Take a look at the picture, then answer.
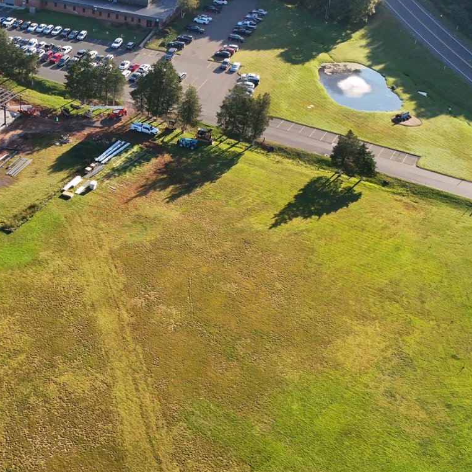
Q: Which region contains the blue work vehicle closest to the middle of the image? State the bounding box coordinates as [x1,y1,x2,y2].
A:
[169,135,201,150]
